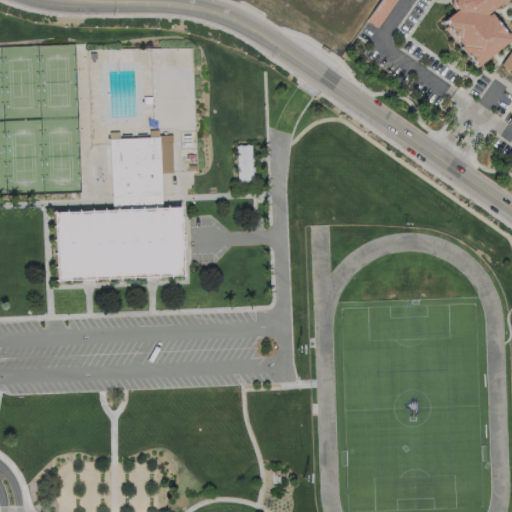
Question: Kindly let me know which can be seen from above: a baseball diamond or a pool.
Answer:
pool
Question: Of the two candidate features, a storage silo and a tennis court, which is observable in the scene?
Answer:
tennis court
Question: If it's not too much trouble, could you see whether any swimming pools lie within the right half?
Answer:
No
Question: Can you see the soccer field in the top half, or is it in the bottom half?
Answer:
bottom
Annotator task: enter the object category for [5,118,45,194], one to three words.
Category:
tennis court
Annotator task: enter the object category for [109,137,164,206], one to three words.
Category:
building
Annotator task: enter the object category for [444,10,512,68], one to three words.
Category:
building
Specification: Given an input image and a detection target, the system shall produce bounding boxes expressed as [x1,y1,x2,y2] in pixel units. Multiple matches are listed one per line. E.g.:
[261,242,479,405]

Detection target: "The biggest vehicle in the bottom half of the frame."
[150,342,164,363]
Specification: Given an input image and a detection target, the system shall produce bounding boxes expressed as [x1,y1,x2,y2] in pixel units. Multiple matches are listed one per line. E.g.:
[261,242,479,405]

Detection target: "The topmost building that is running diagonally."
[368,0,399,28]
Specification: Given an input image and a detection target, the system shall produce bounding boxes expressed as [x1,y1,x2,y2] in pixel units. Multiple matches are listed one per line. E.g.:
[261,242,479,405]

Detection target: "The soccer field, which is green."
[334,298,492,512]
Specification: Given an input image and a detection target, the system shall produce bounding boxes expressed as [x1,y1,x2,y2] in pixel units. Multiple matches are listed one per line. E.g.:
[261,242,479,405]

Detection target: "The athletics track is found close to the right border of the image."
[312,226,509,512]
